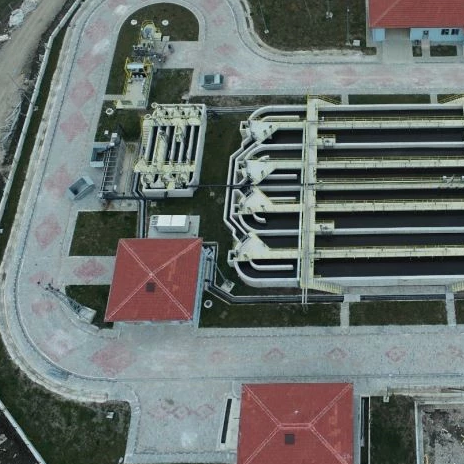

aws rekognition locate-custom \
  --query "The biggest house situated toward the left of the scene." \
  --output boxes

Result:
[103,237,205,328]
